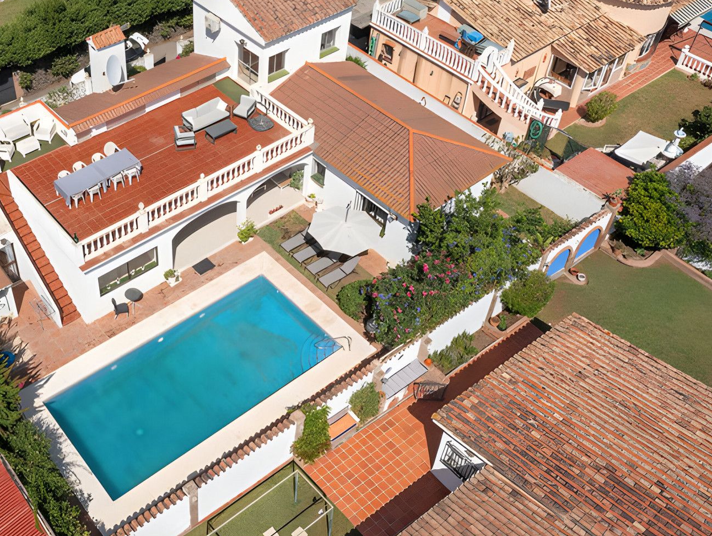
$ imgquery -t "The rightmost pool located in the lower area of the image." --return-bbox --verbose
[43,274,341,500]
